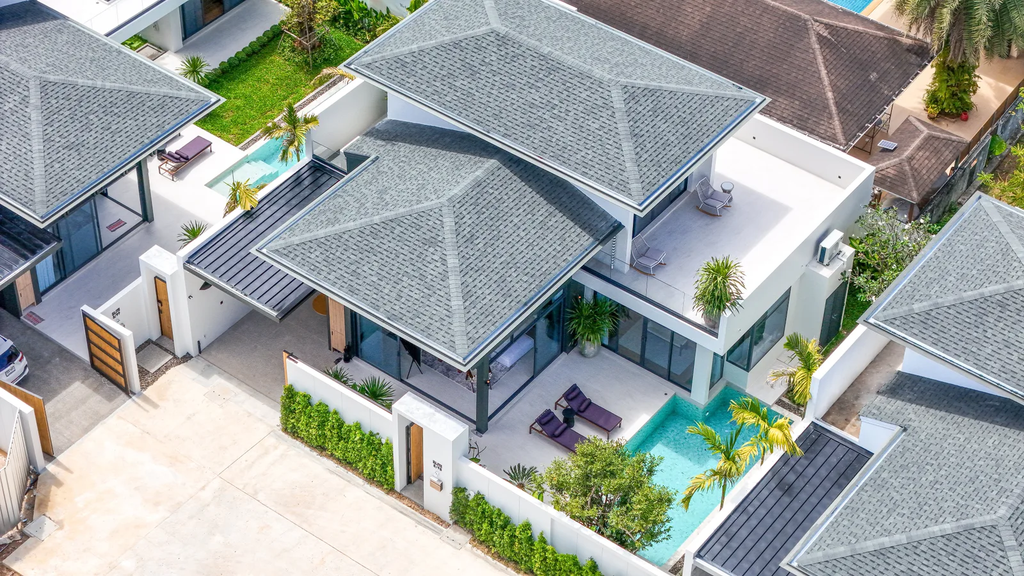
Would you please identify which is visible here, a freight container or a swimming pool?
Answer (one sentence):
Visible in the photo is a swimming pool.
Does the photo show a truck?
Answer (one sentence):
No, the photo shows no truck.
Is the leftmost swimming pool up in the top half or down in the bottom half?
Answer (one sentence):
You can find the leftmost swimming pool in the top half.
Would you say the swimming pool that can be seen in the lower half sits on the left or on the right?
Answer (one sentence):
You can find the swimming pool that can be seen in the lower half on the right side of the picture.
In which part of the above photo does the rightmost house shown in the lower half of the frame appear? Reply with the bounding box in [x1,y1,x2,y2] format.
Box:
[693,189,1024,576]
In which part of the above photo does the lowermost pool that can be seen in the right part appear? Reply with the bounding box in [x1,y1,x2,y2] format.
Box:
[600,389,794,567]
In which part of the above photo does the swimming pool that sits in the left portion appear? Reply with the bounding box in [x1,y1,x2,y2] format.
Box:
[205,122,304,205]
